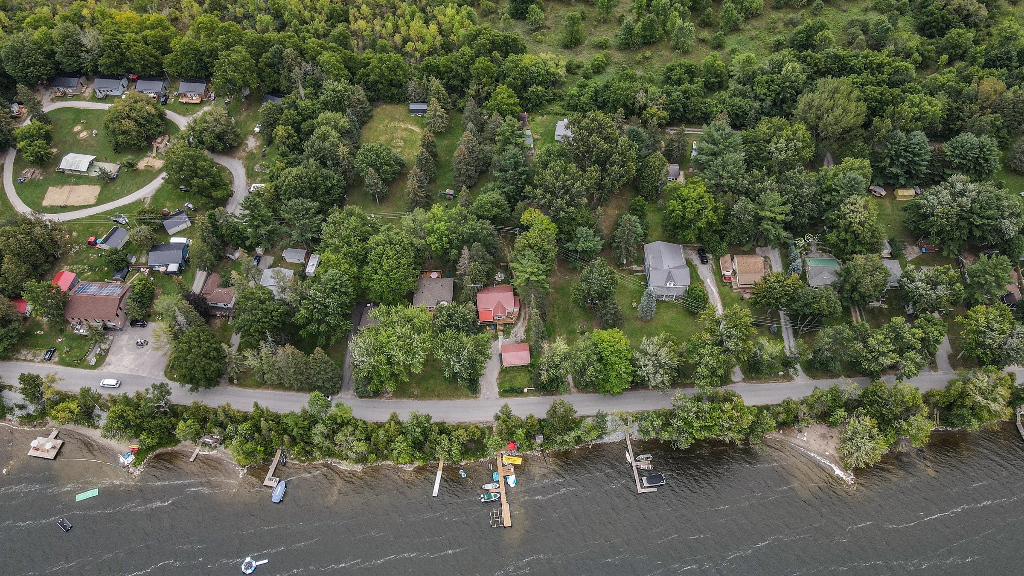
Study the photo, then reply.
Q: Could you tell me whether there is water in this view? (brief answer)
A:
Yes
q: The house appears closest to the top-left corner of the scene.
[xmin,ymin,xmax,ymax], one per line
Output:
[51,74,90,94]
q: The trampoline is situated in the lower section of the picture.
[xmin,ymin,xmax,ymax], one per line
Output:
[239,552,257,575]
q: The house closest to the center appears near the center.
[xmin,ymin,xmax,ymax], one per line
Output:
[476,282,520,321]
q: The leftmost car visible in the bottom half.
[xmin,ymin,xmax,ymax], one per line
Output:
[44,346,57,362]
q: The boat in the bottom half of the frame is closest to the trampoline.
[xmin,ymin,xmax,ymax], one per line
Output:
[271,481,288,505]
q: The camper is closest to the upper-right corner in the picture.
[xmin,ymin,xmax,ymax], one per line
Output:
[869,184,887,196]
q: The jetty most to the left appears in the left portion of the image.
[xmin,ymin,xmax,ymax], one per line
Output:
[27,429,63,459]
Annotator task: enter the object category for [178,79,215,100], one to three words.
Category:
house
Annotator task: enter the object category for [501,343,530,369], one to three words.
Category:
building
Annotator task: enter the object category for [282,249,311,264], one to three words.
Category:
shed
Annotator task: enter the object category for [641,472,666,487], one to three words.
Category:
boat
